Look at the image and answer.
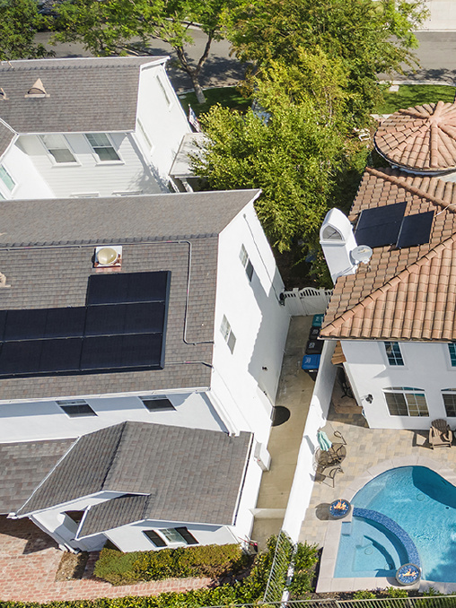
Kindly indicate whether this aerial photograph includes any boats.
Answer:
No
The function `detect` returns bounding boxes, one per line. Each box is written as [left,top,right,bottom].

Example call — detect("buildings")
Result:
[315,94,456,430]
[0,187,293,555]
